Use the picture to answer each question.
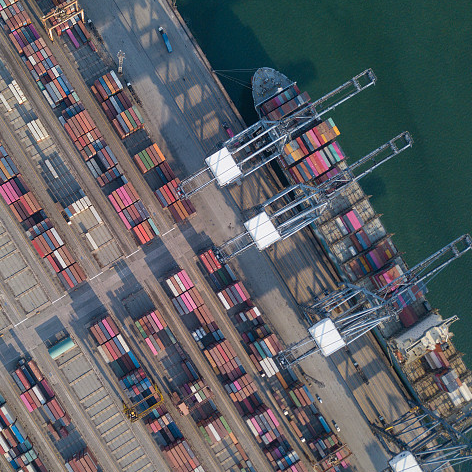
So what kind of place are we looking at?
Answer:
port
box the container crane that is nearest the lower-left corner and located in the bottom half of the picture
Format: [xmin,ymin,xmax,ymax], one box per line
[123,381,166,423]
